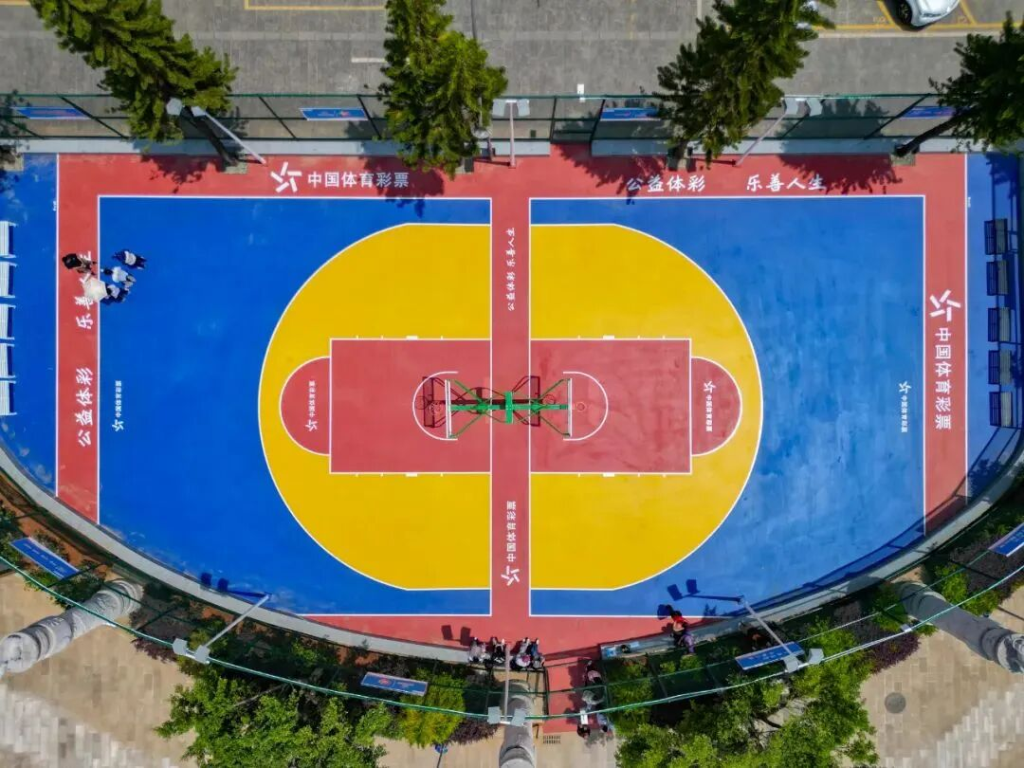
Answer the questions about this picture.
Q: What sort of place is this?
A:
sports ground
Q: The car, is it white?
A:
Yes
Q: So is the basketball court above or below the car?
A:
below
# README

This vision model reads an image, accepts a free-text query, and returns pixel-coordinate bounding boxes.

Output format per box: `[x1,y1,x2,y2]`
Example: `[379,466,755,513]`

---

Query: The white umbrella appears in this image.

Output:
[85,277,113,305]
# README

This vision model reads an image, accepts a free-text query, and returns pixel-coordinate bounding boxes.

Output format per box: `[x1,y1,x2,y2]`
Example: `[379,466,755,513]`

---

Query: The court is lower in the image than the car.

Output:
[0,142,1023,650]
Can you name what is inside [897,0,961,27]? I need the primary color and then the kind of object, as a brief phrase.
white car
